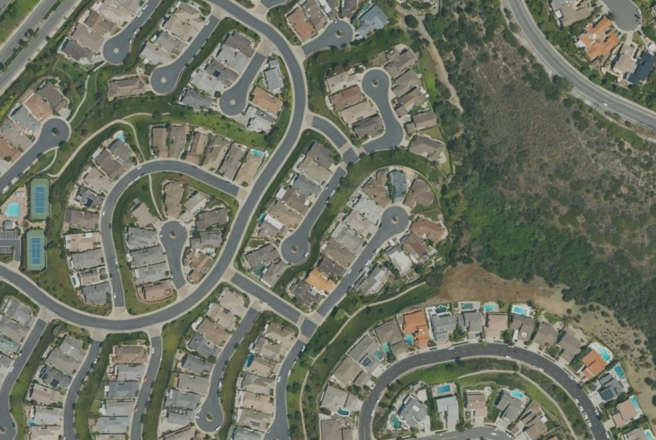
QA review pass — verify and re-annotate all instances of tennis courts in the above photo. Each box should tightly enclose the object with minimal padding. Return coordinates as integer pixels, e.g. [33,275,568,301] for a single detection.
[26,230,46,271]
[30,179,50,220]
